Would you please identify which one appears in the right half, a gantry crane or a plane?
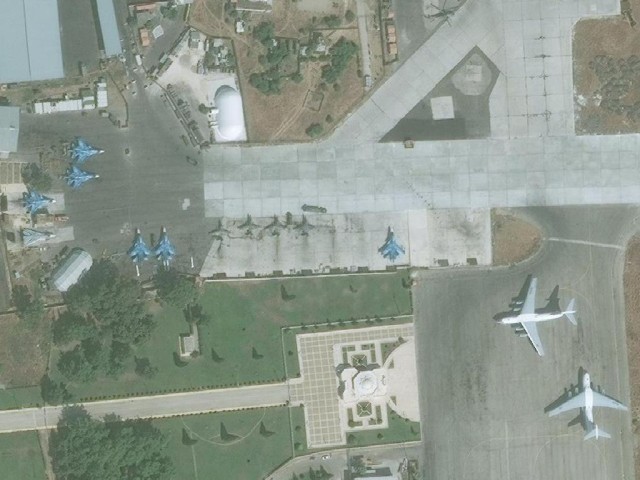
plane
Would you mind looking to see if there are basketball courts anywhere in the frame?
No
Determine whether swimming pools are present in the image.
No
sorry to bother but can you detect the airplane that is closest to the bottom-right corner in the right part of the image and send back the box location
[551,371,631,442]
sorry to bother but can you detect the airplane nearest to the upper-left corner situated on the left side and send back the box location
[68,140,105,162]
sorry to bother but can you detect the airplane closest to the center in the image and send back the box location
[294,213,316,239]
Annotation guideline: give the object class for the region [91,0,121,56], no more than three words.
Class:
hangar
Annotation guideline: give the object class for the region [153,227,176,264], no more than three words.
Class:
airplane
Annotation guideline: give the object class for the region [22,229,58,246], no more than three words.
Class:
airplane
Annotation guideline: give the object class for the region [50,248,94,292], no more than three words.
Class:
shed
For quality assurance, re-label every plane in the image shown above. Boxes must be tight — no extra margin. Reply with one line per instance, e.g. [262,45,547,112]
[551,371,631,442]
[381,228,403,264]
[266,214,288,239]
[64,166,100,189]
[239,214,261,239]
[68,140,105,162]
[128,229,151,264]
[21,191,56,214]
[294,213,316,239]
[153,227,176,264]
[499,278,580,357]
[22,229,58,246]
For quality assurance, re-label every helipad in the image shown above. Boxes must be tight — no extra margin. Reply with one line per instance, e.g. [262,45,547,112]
[431,96,454,119]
